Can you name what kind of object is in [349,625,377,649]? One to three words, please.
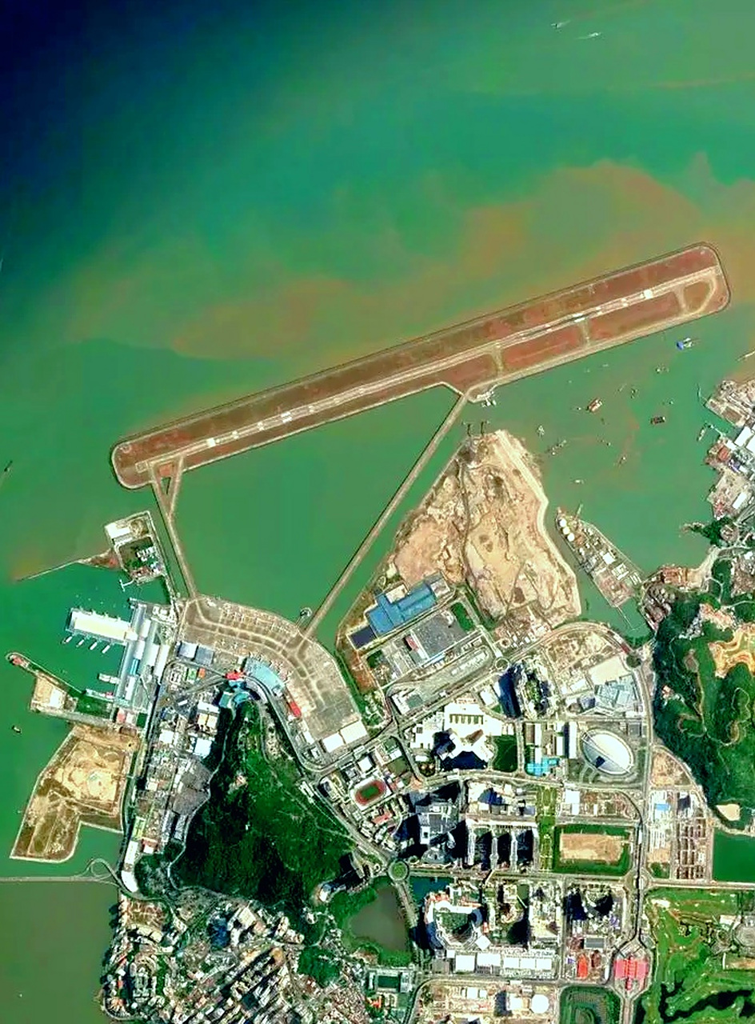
shed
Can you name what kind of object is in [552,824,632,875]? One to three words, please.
sports field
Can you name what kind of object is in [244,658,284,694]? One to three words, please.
building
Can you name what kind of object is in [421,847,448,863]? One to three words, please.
building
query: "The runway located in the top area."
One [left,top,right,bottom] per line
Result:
[133,265,717,472]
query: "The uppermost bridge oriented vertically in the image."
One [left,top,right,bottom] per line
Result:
[148,470,196,598]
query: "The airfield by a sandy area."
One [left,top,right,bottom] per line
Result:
[110,240,732,748]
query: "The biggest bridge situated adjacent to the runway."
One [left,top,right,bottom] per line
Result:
[303,396,467,642]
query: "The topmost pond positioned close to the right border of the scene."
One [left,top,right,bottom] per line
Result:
[712,828,755,883]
